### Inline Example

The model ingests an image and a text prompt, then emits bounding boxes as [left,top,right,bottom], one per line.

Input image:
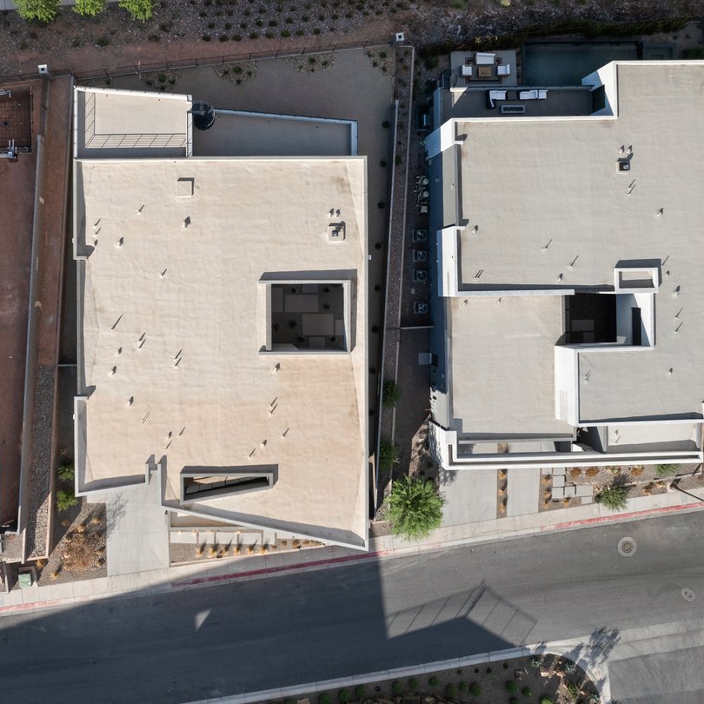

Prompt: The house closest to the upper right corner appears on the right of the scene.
[418,60,704,470]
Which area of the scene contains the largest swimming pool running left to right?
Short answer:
top right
